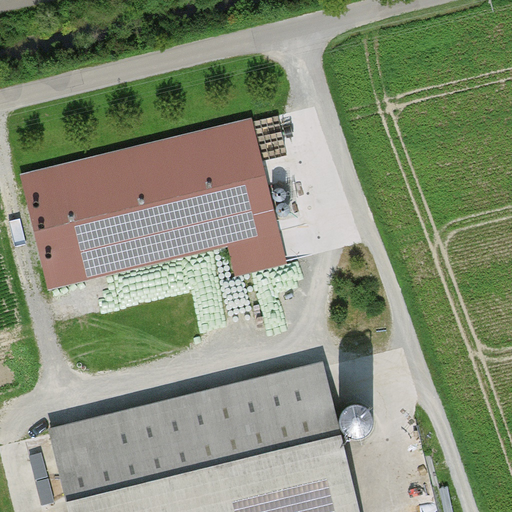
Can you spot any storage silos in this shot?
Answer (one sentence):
Yes, the photo shows a storage silo.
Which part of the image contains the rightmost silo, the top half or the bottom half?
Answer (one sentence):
The bottom half of the photo is where the rightmost silo is.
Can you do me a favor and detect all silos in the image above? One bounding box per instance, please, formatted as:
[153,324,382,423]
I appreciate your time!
[274,202,293,218]
[272,187,289,202]
[338,404,373,444]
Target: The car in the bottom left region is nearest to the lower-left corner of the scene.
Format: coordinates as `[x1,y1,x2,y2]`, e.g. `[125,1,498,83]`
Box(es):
[28,417,49,437]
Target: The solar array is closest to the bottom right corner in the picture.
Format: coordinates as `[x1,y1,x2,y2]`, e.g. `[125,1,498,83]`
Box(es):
[233,479,335,512]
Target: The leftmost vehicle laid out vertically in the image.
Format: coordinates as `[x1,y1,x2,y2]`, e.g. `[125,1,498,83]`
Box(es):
[10,218,26,246]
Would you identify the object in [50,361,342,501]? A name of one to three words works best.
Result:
barn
